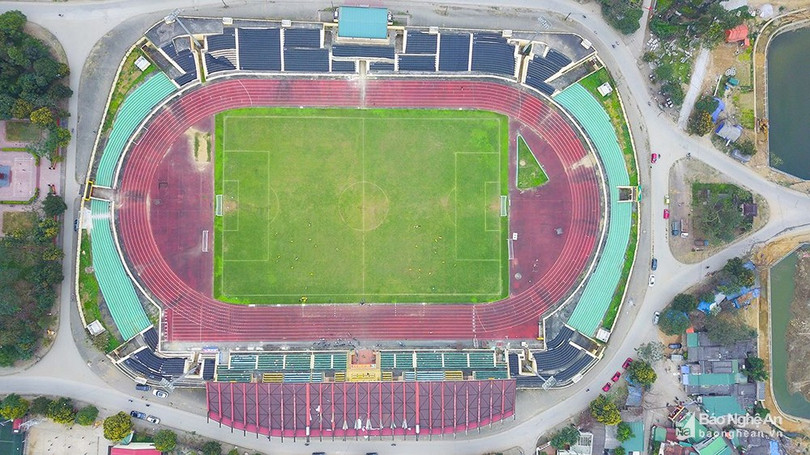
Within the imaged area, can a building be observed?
Yes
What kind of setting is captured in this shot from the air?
sports ground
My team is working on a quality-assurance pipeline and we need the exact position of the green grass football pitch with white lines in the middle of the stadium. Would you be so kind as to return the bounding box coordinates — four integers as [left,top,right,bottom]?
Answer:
[213,108,509,305]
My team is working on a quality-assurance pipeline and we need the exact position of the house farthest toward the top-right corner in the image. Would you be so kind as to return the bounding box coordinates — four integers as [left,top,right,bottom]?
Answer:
[721,25,752,51]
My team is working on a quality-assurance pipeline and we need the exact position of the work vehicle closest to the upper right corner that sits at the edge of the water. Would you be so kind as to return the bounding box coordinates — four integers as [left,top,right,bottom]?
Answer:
[757,112,770,131]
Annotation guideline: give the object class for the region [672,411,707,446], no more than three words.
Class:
house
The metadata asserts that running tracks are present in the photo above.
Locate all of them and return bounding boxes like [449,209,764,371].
[116,79,600,344]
